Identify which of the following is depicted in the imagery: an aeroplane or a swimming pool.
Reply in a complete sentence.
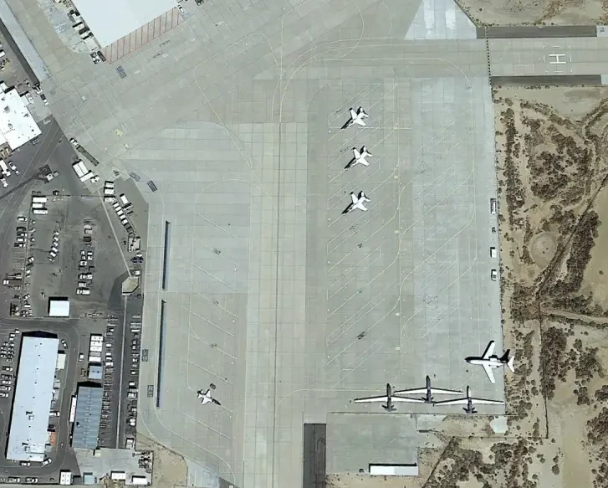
This aerial view contains an aeroplane.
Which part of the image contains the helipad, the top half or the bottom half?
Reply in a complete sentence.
The top half of the photo is where the helipad is.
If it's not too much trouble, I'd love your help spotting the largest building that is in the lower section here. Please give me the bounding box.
[5,336,59,463]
